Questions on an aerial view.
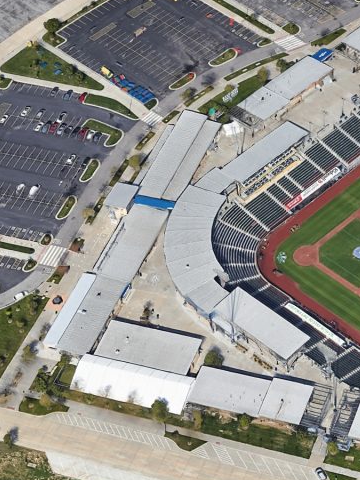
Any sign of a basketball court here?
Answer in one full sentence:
No, no basketball court can be seen from above.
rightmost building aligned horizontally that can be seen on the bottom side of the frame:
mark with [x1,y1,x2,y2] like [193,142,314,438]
[188,366,314,431]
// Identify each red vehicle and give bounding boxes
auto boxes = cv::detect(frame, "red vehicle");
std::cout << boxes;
[78,128,89,139]
[49,123,59,133]
[77,93,88,103]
